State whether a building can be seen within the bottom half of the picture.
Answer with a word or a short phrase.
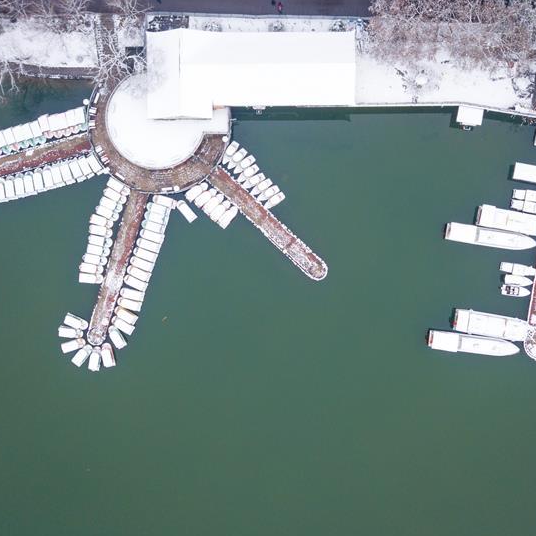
No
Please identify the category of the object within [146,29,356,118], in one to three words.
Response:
building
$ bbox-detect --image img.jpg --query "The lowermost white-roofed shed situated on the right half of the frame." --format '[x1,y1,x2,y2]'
[455,104,484,129]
